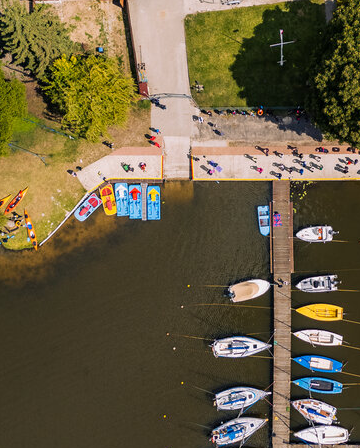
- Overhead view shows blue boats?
Yes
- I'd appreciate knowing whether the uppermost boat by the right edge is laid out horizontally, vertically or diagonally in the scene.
horizontally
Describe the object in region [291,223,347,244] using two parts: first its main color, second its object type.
white boat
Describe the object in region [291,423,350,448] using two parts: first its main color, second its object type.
white boat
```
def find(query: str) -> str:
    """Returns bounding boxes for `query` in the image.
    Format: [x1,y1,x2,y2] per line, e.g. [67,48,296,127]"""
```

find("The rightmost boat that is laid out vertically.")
[258,206,273,237]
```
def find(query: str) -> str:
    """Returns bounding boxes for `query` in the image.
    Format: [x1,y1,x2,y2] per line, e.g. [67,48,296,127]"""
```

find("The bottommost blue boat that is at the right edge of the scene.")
[292,377,357,394]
